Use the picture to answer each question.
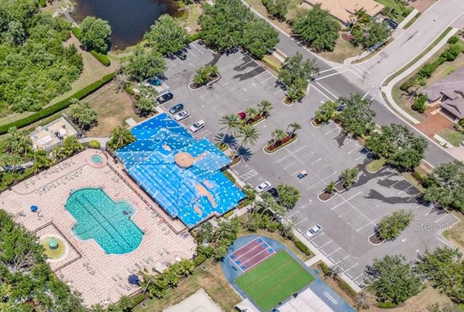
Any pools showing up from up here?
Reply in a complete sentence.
Yes, the photo shows a pool.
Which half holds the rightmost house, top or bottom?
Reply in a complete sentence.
It is in the top half that the rightmost house appears.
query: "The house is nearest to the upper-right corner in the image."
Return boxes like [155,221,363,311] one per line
[417,55,464,120]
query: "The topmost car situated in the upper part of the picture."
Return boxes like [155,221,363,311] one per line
[384,16,399,28]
